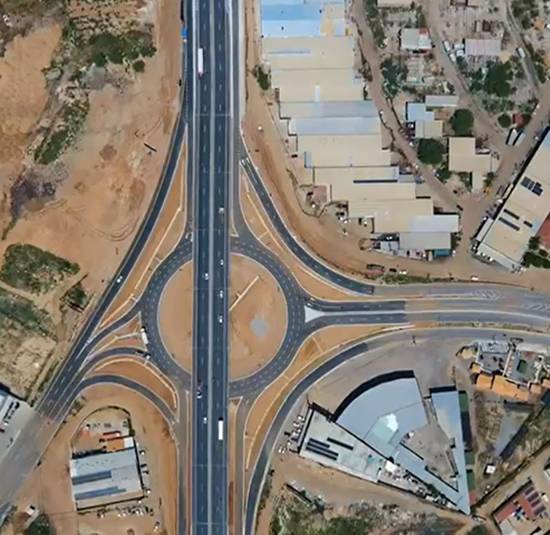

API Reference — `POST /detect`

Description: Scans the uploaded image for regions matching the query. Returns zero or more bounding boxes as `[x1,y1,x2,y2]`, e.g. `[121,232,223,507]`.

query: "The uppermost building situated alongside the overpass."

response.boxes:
[262,0,346,37]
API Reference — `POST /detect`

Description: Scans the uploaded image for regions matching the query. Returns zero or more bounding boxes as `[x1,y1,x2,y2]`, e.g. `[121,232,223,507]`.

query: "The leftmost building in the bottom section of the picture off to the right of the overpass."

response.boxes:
[300,412,387,481]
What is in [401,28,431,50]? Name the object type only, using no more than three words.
house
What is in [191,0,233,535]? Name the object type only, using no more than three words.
overpass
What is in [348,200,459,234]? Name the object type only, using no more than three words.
building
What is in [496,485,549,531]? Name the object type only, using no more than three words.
house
